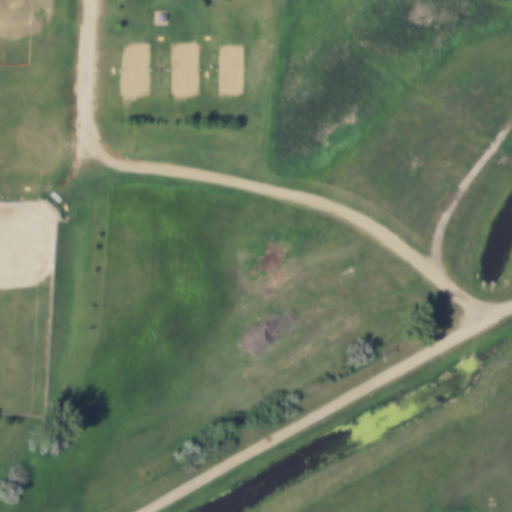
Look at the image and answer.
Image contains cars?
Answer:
No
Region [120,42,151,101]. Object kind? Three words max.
sports court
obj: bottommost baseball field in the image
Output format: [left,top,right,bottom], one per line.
[0,200,61,415]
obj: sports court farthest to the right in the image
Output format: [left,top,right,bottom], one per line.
[218,45,244,96]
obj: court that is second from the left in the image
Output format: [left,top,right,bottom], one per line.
[170,42,200,99]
